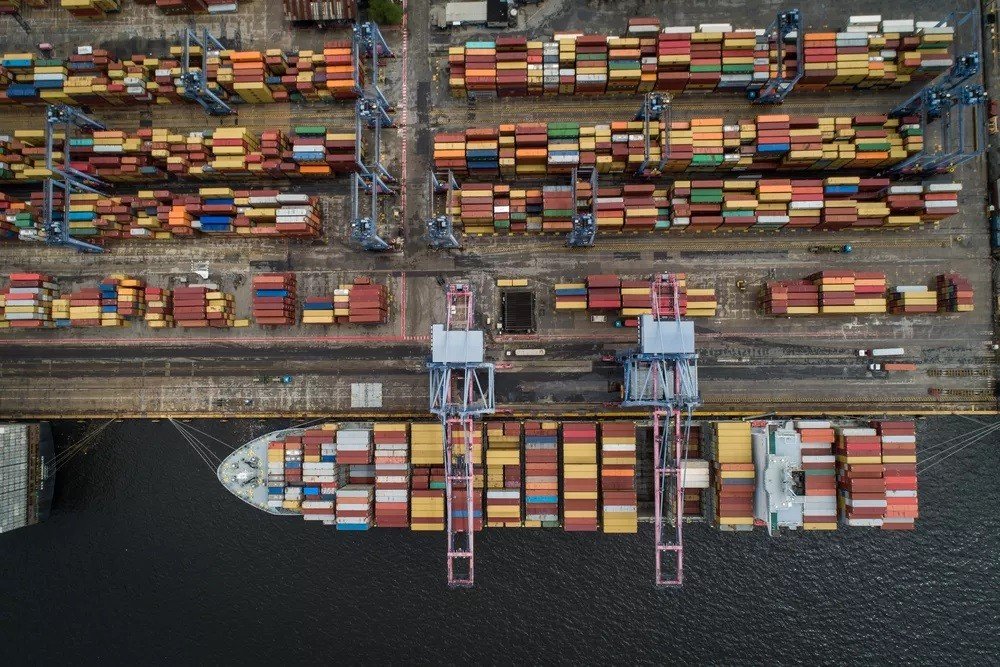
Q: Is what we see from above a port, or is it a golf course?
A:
port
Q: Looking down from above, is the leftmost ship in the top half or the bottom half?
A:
bottom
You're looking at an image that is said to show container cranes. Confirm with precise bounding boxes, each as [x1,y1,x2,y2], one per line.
[44,177,105,255]
[353,18,391,108]
[425,274,512,587]
[632,89,670,176]
[566,168,601,248]
[758,7,804,101]
[916,5,979,97]
[352,171,390,251]
[354,95,393,180]
[889,83,949,171]
[925,82,986,171]
[45,101,105,185]
[183,23,233,111]
[604,271,705,587]
[427,170,461,250]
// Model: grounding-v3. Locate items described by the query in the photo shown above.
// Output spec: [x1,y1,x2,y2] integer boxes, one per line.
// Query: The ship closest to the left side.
[0,420,61,532]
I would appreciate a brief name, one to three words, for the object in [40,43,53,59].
vehicle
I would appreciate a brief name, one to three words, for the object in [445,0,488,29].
building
